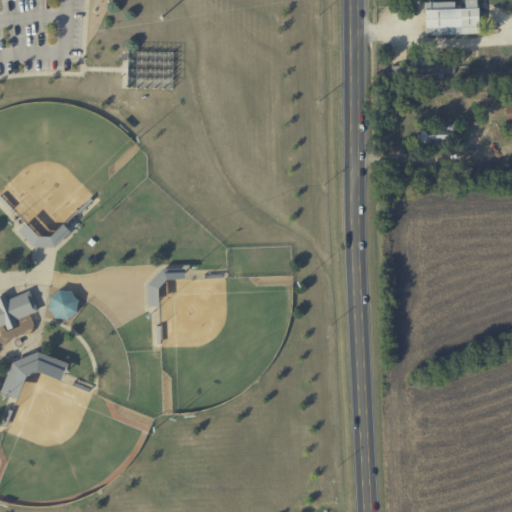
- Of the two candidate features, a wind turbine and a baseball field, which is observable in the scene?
baseball field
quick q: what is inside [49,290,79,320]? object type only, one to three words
gazebo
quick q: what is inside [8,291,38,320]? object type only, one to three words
building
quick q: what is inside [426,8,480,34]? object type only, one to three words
barn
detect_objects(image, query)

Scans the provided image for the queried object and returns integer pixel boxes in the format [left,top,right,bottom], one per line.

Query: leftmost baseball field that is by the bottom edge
[0,372,153,506]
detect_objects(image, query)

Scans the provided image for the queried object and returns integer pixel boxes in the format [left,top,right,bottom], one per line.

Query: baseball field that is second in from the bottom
[160,247,293,414]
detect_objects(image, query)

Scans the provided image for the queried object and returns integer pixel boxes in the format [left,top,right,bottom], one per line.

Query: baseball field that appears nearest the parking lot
[0,102,141,236]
